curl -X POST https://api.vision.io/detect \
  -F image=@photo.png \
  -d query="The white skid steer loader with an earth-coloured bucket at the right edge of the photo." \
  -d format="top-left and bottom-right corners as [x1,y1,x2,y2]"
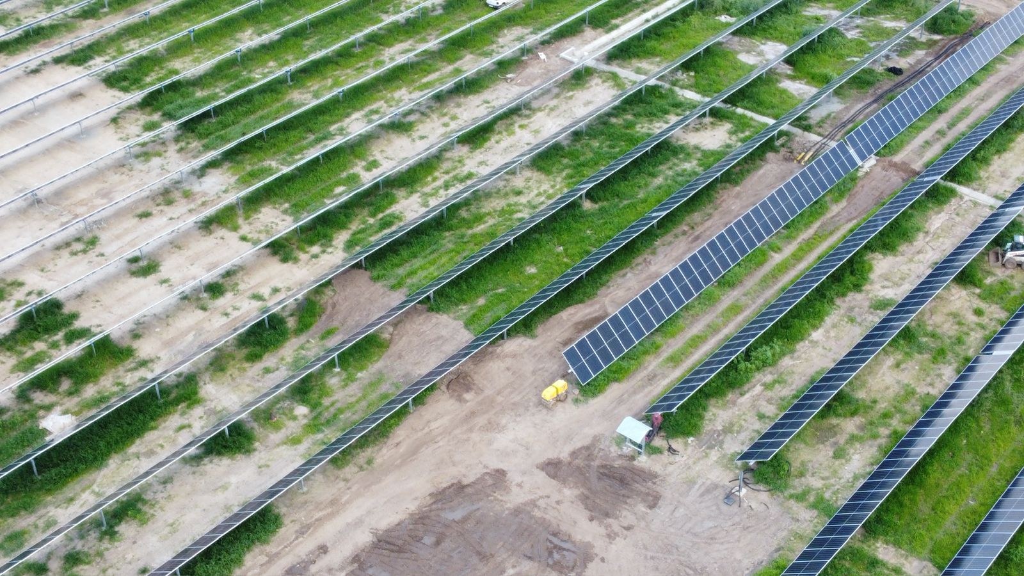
[992,238,1024,271]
